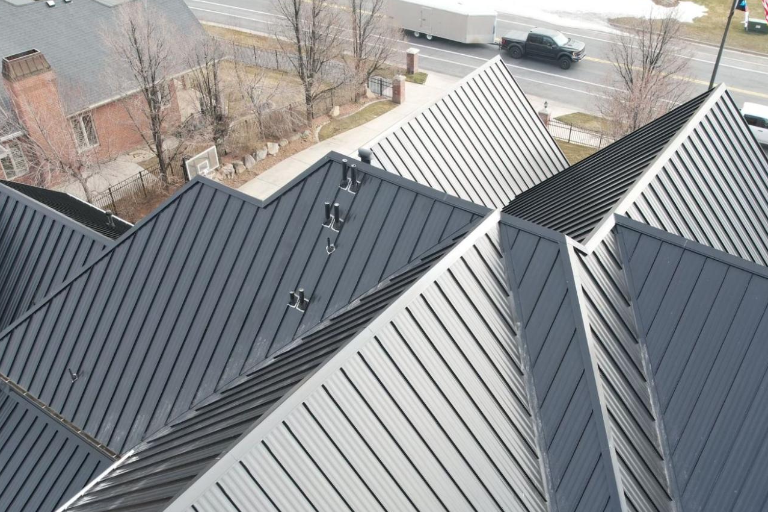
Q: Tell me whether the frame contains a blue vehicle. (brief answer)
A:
No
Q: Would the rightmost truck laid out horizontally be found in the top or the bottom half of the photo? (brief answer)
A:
top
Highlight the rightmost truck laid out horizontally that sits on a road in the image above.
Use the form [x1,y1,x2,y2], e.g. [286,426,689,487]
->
[499,25,590,69]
